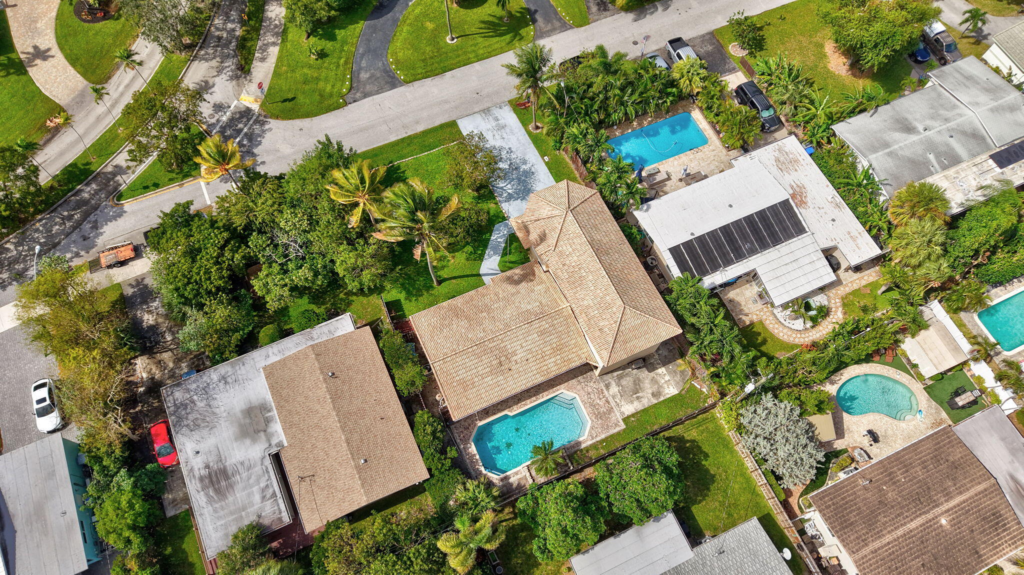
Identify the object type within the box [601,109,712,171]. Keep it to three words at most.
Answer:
swimming pool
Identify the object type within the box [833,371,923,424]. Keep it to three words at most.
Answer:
swimming pool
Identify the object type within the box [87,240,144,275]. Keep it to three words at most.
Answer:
trailer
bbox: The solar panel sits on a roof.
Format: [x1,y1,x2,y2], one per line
[989,141,1024,169]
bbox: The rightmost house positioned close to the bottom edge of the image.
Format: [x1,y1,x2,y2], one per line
[808,405,1024,575]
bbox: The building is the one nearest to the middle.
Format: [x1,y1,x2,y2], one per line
[410,178,684,422]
